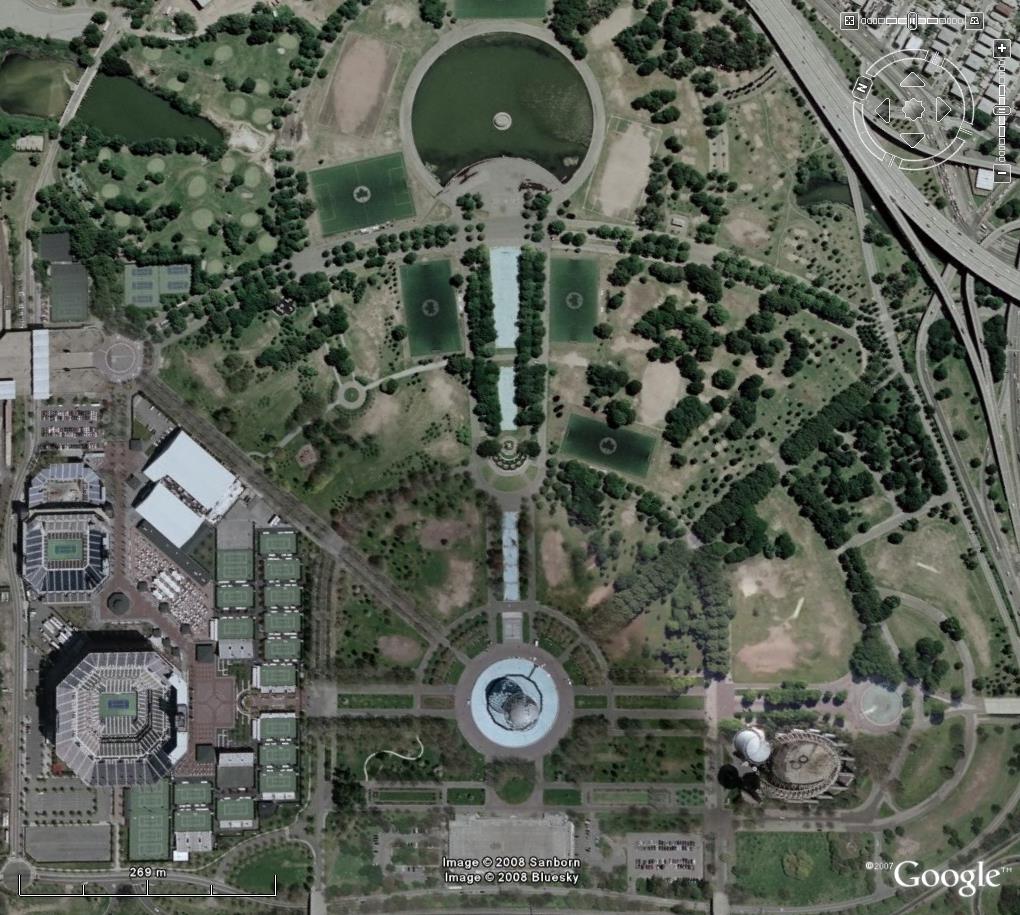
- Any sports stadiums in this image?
Yes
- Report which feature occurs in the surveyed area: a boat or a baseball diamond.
baseball diamond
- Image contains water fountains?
Yes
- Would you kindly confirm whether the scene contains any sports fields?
Yes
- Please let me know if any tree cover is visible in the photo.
Yes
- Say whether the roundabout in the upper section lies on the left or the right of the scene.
left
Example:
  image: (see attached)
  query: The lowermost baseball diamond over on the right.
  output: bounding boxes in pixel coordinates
[739,597,803,670]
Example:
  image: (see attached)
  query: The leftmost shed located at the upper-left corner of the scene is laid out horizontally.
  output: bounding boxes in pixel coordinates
[14,136,44,150]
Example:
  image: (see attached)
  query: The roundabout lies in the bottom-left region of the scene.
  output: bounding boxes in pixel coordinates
[0,855,36,891]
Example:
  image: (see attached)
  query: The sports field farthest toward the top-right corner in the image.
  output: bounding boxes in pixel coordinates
[584,115,662,226]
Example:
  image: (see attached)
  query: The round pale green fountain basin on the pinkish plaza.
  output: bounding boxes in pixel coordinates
[861,683,902,724]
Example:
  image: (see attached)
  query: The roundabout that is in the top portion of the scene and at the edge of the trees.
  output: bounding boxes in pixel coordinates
[96,334,144,382]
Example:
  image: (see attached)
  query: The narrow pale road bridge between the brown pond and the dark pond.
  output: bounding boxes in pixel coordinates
[57,50,103,132]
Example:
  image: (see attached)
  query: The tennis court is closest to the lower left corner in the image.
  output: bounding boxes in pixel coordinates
[128,786,169,861]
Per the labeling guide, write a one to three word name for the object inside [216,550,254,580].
tennis court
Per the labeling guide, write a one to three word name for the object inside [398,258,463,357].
soccer field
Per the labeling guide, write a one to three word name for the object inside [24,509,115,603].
stadium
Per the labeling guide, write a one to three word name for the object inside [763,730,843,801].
building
